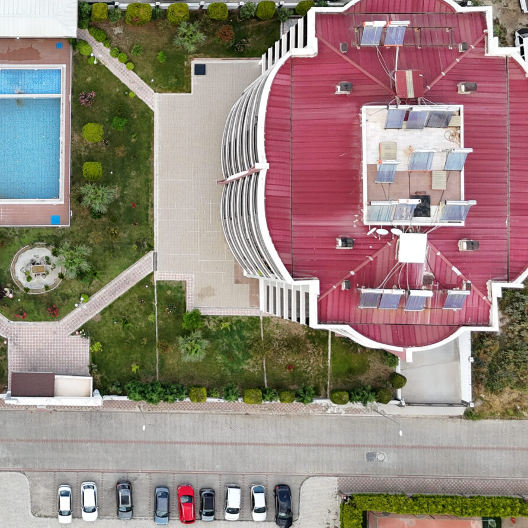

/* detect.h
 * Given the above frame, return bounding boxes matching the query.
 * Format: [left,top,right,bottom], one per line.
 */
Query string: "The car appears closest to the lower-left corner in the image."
[56,485,73,525]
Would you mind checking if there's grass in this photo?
Yes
